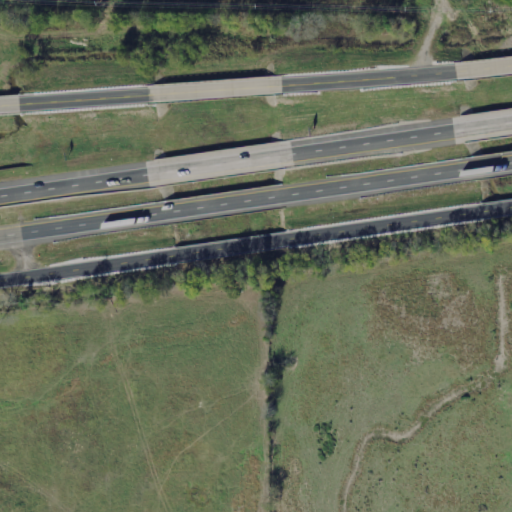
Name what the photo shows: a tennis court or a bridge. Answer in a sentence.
I can see a bridge in this picture.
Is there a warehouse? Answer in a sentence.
No, there is no warehouse in the image.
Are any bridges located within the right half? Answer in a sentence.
Yes, within the right half there is a bridge.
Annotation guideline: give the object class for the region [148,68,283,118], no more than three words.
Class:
bridge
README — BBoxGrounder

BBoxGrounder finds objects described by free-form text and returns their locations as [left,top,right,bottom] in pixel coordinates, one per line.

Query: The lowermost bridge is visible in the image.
[172,230,288,265]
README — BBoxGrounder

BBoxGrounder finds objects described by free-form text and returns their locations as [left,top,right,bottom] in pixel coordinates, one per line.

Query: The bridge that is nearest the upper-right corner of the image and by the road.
[454,52,512,90]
